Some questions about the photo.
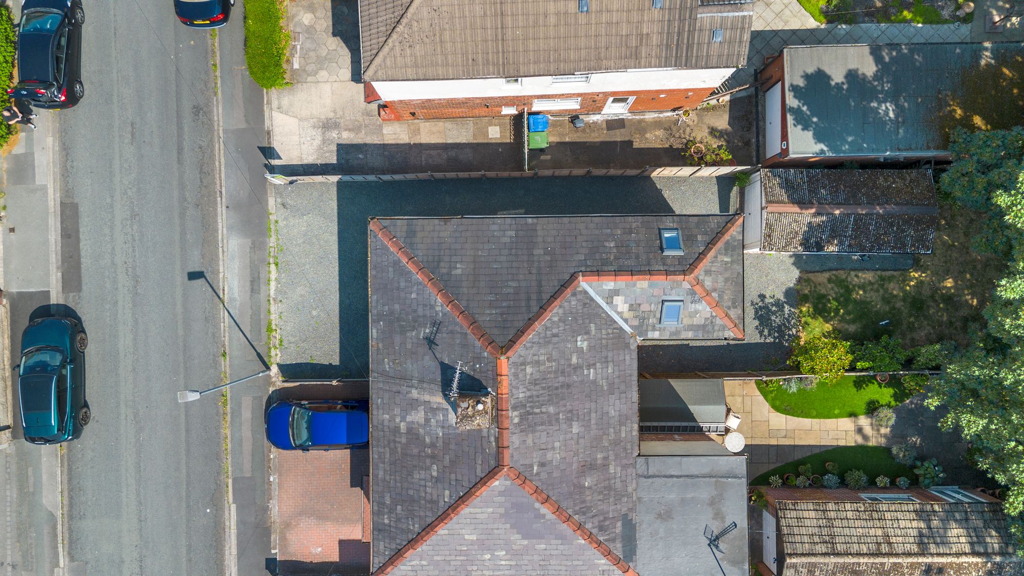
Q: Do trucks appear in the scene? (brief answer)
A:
No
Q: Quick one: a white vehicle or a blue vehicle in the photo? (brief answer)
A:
blue vehicle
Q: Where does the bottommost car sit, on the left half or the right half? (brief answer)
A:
left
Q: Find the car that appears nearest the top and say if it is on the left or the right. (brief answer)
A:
left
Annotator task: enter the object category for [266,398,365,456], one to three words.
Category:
car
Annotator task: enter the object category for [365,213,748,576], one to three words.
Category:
house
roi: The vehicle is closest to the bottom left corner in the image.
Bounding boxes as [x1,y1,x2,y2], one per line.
[16,317,89,441]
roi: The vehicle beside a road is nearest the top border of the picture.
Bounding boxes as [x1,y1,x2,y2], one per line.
[176,0,236,31]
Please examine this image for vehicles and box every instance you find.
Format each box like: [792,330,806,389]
[16,317,89,441]
[176,0,236,31]
[266,398,365,456]
[3,0,84,111]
